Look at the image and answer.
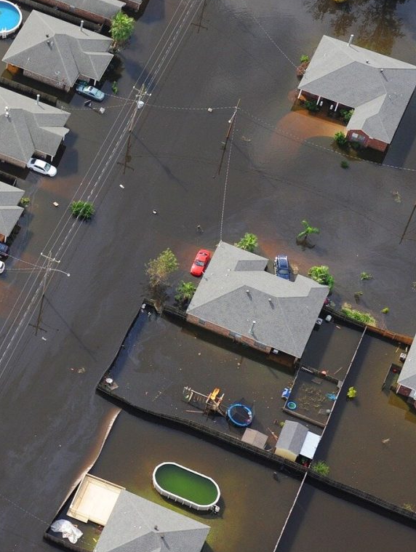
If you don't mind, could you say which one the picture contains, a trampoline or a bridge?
trampoline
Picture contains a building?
Yes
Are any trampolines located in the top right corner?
No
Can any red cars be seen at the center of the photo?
Yes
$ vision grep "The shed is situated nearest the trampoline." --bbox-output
[242,428,267,452]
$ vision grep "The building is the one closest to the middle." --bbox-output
[186,241,330,366]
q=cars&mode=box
[0,242,13,259]
[25,159,58,178]
[74,85,106,102]
[275,253,292,279]
[191,250,210,277]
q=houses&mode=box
[393,335,416,409]
[40,0,143,32]
[186,241,330,366]
[0,182,25,243]
[0,86,70,170]
[2,9,115,98]
[296,34,416,154]
[92,488,210,552]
